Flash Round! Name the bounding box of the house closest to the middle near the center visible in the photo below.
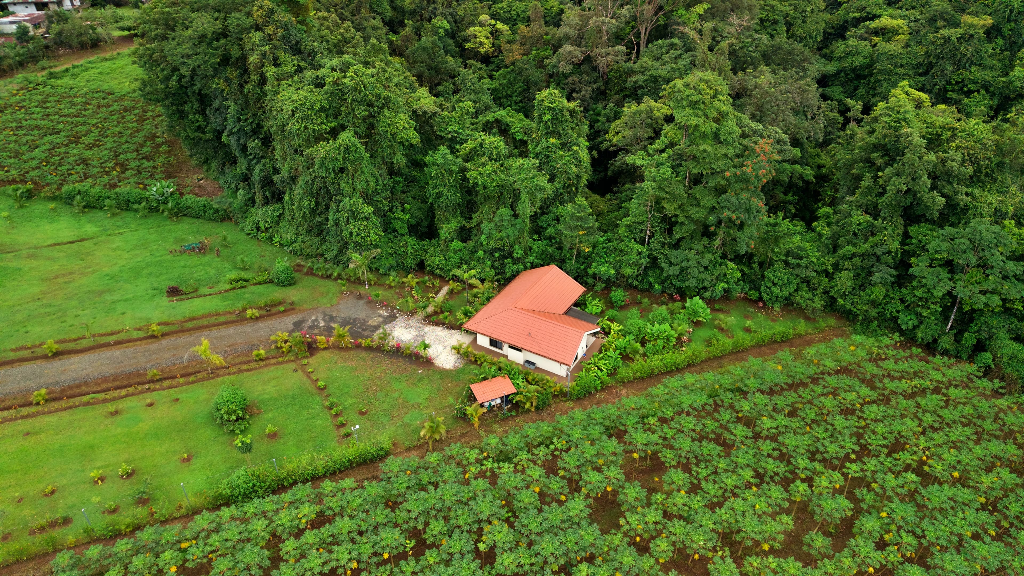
[459,265,602,379]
